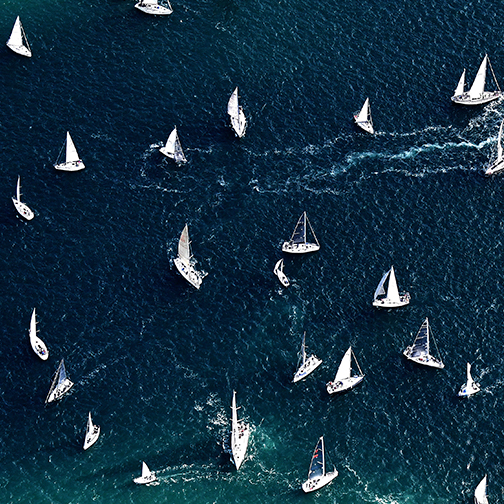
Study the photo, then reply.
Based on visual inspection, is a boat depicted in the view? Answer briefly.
Yes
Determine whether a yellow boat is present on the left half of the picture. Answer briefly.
No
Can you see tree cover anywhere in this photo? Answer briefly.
No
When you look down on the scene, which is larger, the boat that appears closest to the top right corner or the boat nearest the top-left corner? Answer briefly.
the boat that appears closest to the top right corner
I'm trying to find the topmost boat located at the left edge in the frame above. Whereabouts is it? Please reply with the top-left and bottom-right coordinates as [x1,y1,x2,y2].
[5,18,31,58]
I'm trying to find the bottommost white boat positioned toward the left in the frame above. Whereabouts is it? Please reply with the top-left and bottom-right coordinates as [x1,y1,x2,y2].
[134,462,156,483]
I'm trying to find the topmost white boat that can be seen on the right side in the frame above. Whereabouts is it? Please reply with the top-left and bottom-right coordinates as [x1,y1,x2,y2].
[452,57,501,105]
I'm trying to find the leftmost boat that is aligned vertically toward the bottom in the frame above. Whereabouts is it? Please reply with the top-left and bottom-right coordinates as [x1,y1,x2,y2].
[31,311,49,360]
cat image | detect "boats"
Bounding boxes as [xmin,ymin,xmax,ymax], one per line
[172,226,198,290]
[231,392,248,473]
[485,122,504,177]
[158,126,187,163]
[134,462,156,483]
[320,349,364,393]
[374,268,410,307]
[274,258,292,288]
[460,365,481,397]
[84,413,102,450]
[354,99,373,136]
[476,476,488,504]
[13,176,35,219]
[47,360,76,403]
[294,331,322,384]
[403,318,443,369]
[302,438,338,492]
[230,87,246,140]
[5,18,31,58]
[134,0,173,15]
[282,212,319,253]
[56,133,91,172]
[31,311,49,360]
[452,57,501,105]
